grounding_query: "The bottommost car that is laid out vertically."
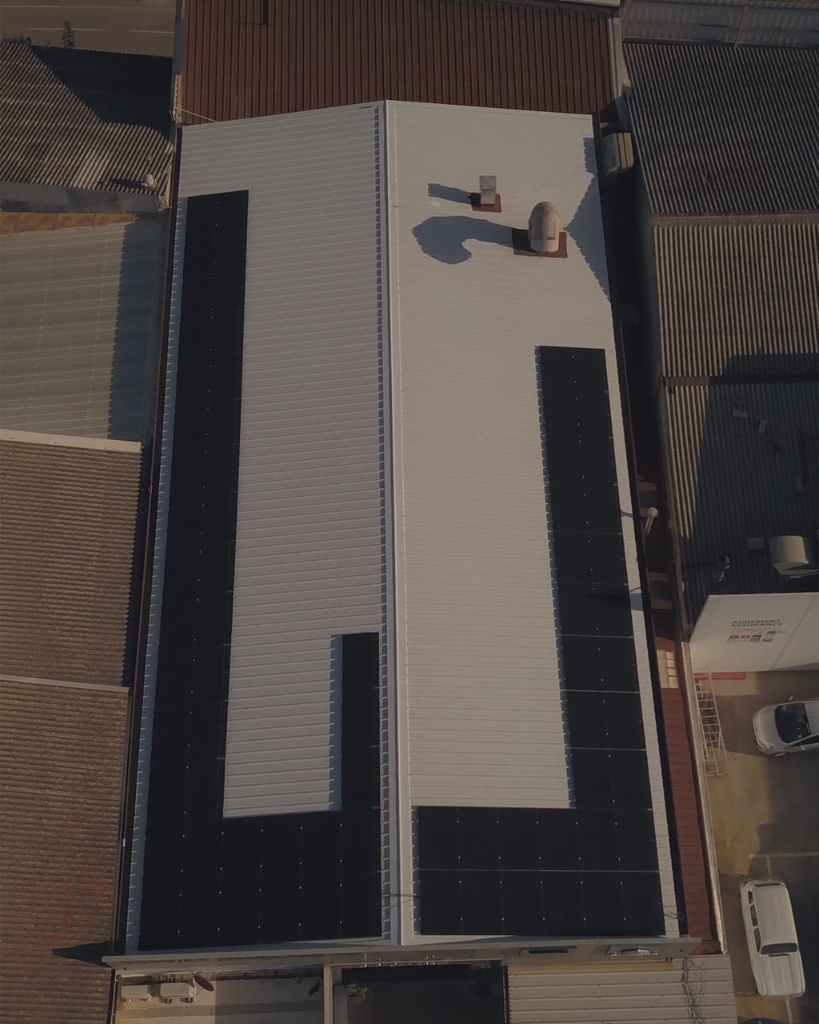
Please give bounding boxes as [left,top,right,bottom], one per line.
[739,875,806,1000]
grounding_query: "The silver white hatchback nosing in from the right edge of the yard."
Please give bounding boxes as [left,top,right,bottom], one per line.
[750,690,819,753]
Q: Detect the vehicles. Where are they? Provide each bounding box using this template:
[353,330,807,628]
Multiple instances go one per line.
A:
[739,875,806,1000]
[737,1014,781,1024]
[750,690,819,753]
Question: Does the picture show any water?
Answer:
No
